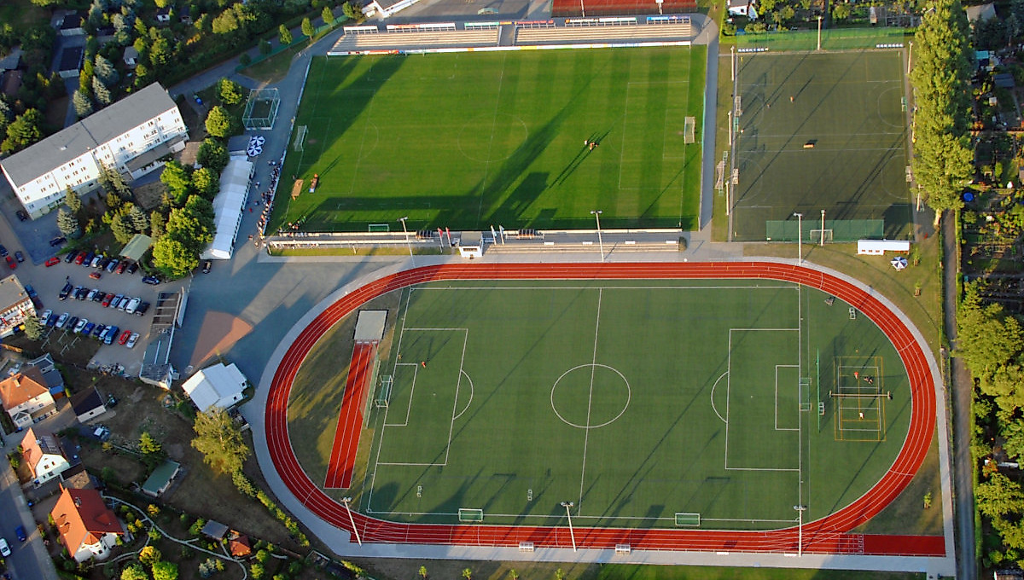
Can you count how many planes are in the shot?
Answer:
none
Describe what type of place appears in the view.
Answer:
sports ground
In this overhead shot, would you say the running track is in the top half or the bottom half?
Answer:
bottom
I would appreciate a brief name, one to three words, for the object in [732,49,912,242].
sports field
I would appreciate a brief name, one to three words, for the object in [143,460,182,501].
building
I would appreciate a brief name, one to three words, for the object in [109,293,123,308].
car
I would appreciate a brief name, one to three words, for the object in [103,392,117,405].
vehicle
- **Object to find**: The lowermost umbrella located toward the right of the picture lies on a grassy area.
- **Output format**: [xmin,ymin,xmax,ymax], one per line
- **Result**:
[891,254,908,268]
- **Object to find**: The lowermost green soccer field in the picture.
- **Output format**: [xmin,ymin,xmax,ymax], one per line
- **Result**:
[357,278,911,530]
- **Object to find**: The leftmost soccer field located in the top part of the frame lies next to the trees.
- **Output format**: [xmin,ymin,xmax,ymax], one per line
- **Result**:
[266,44,707,238]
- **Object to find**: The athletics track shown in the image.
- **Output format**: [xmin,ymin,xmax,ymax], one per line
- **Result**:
[265,262,947,556]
